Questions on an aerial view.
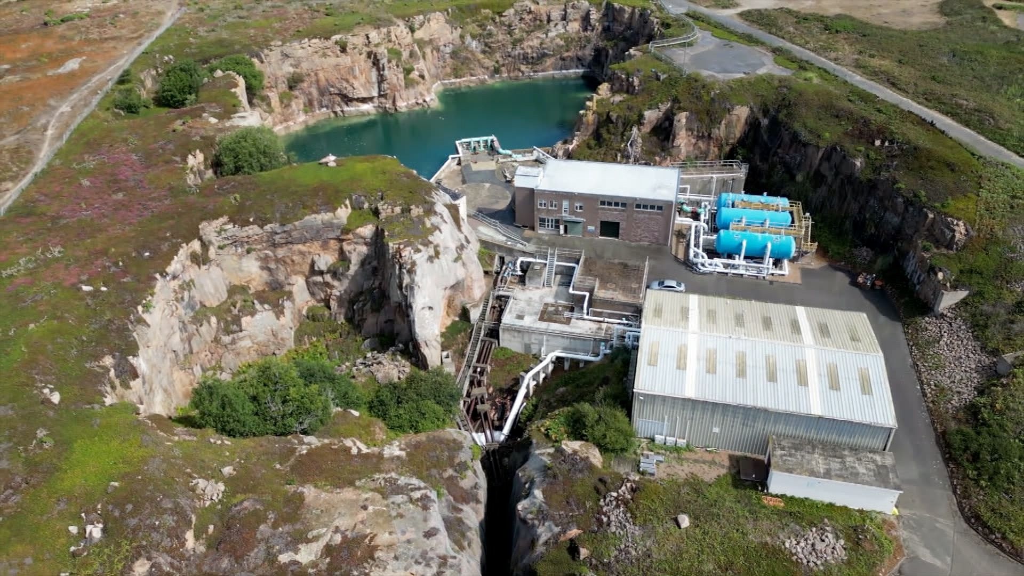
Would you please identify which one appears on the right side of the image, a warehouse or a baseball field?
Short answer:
warehouse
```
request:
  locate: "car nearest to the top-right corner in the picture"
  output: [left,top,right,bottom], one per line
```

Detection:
[650,275,686,292]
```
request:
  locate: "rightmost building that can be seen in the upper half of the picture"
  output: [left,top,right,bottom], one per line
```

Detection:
[514,155,682,246]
